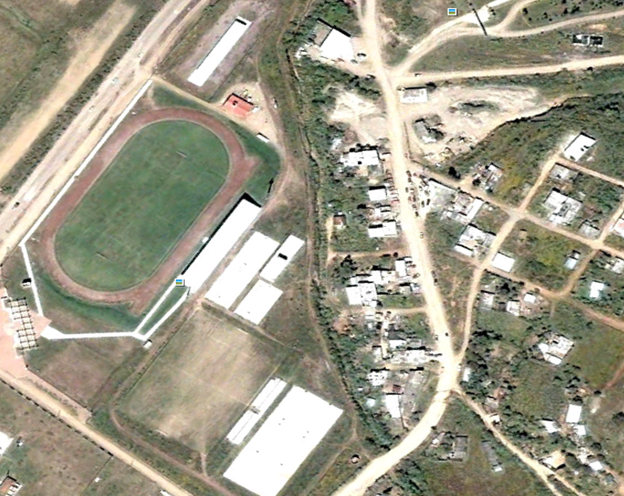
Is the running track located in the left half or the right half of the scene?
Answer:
left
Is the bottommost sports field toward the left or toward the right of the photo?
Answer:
left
